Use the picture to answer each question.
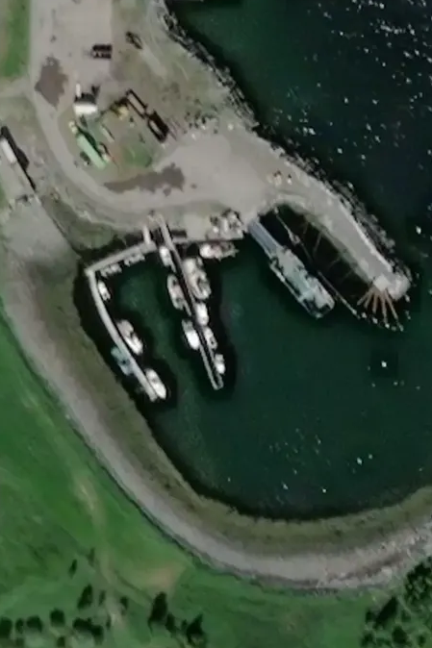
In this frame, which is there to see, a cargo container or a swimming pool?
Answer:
cargo container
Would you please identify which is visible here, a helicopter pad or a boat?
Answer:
boat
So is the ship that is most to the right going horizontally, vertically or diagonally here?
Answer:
diagonally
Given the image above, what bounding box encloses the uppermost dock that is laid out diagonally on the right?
[156,0,418,301]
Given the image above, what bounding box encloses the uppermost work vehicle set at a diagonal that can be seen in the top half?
[112,100,130,118]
